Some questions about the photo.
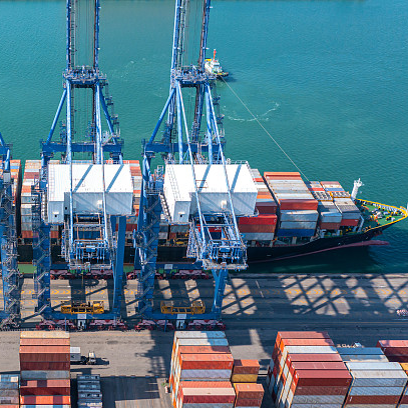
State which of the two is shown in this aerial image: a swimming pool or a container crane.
container crane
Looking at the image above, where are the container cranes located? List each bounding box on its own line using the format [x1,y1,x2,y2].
[129,0,260,328]
[0,112,25,327]
[31,0,138,328]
